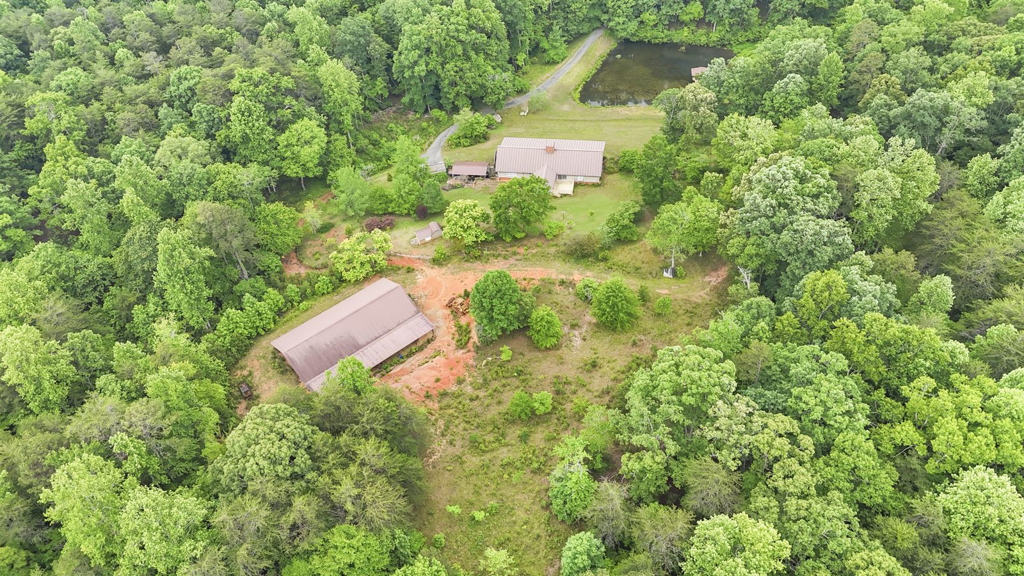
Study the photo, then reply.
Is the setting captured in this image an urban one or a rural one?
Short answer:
rural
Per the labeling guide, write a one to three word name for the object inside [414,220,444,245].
shed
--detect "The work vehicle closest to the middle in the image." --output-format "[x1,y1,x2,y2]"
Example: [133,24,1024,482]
[440,291,470,316]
